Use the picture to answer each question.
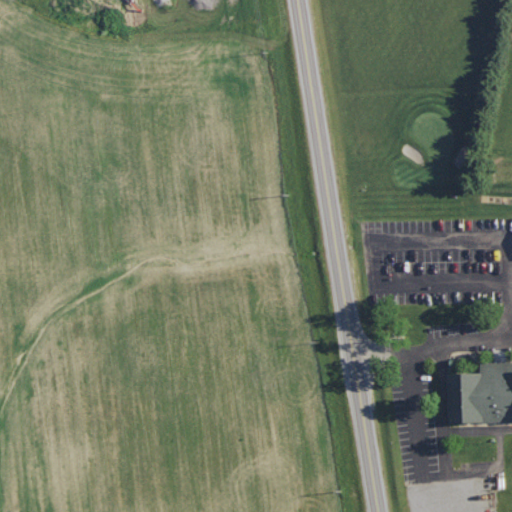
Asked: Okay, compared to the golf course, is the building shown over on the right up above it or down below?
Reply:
below it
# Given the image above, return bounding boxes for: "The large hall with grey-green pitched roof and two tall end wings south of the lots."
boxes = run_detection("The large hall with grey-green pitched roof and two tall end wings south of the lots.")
[462,363,512,425]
